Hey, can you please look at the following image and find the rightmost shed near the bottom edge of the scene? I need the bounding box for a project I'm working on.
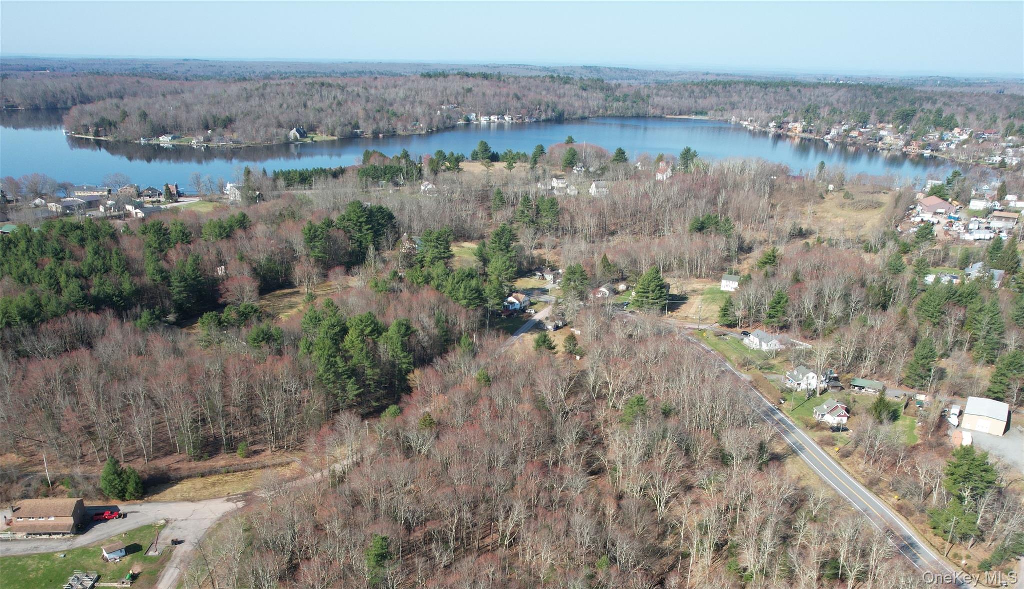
[100,539,127,562]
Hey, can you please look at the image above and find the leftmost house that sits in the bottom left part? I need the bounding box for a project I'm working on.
[3,495,95,544]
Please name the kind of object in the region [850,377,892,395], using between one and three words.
shed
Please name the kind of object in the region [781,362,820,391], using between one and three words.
house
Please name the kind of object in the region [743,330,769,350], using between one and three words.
house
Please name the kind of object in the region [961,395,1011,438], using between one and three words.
building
